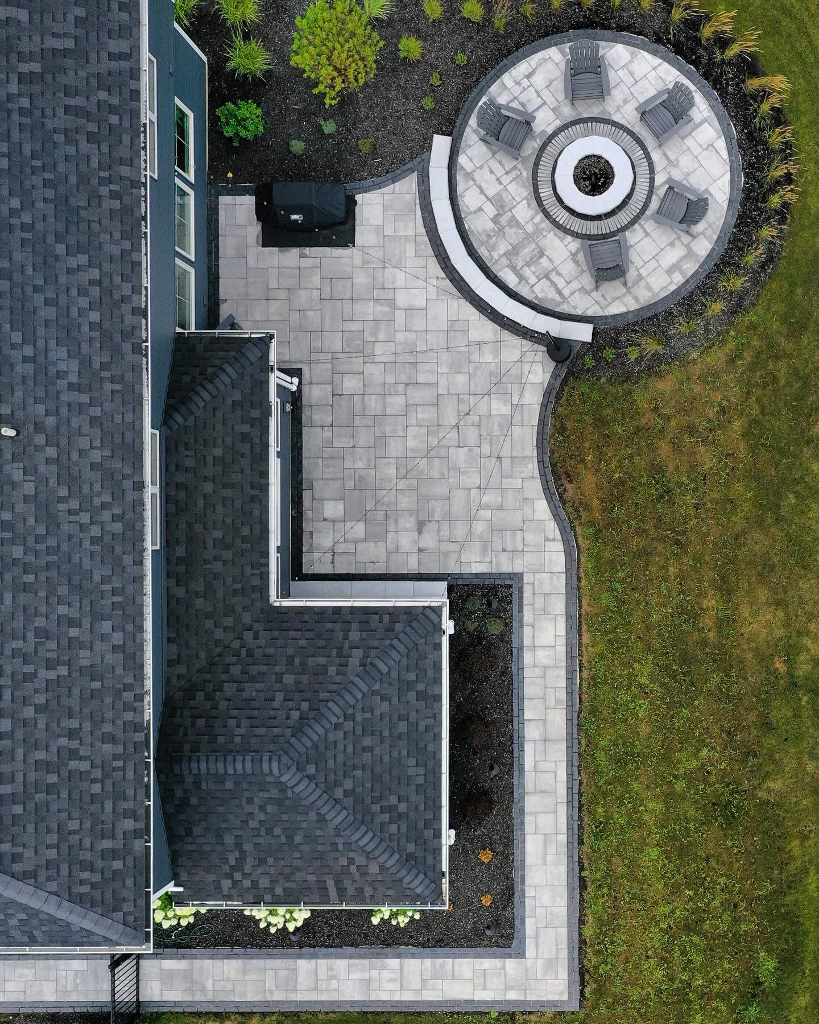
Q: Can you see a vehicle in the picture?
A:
No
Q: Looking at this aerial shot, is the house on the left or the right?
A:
left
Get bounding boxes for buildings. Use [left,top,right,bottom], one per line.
[0,0,455,954]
